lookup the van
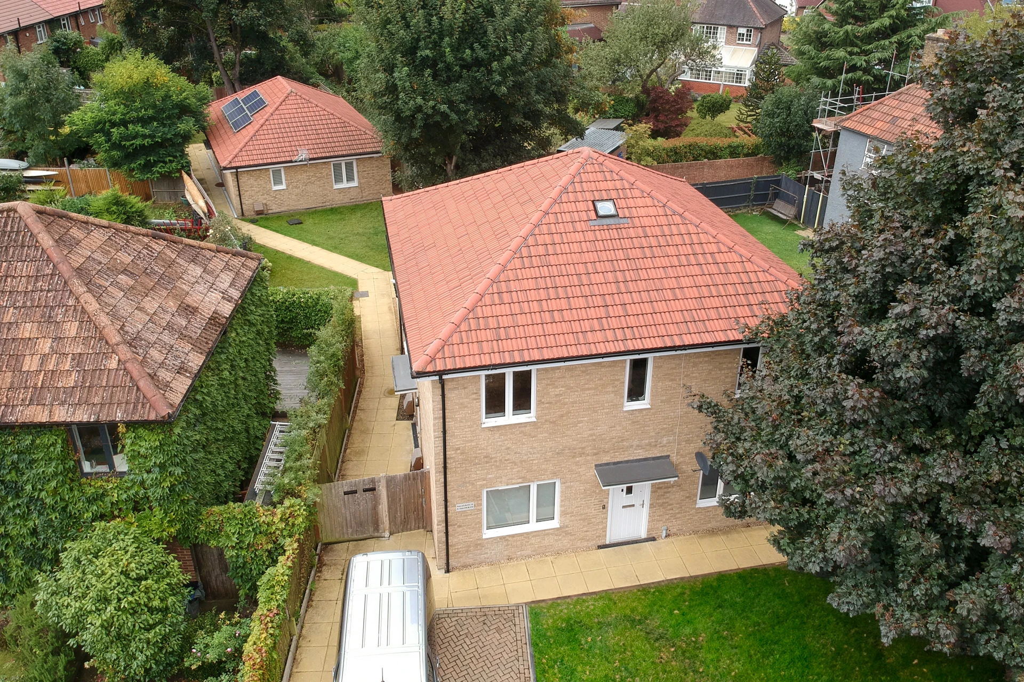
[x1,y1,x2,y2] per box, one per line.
[335,551,441,682]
